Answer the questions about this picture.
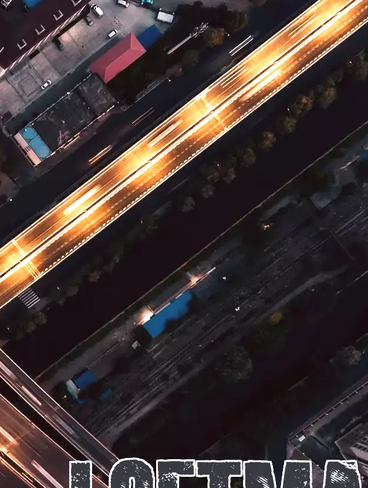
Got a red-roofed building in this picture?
Yes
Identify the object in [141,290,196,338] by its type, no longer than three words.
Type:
shed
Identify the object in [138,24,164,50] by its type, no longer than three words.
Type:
shed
